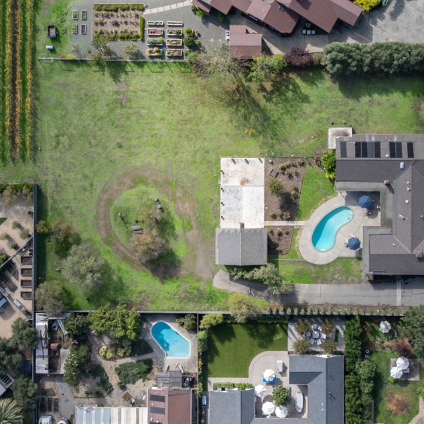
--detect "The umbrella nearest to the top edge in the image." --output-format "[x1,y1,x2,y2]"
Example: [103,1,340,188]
[358,196,371,208]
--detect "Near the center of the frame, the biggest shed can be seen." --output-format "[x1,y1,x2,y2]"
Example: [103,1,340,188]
[216,226,267,266]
